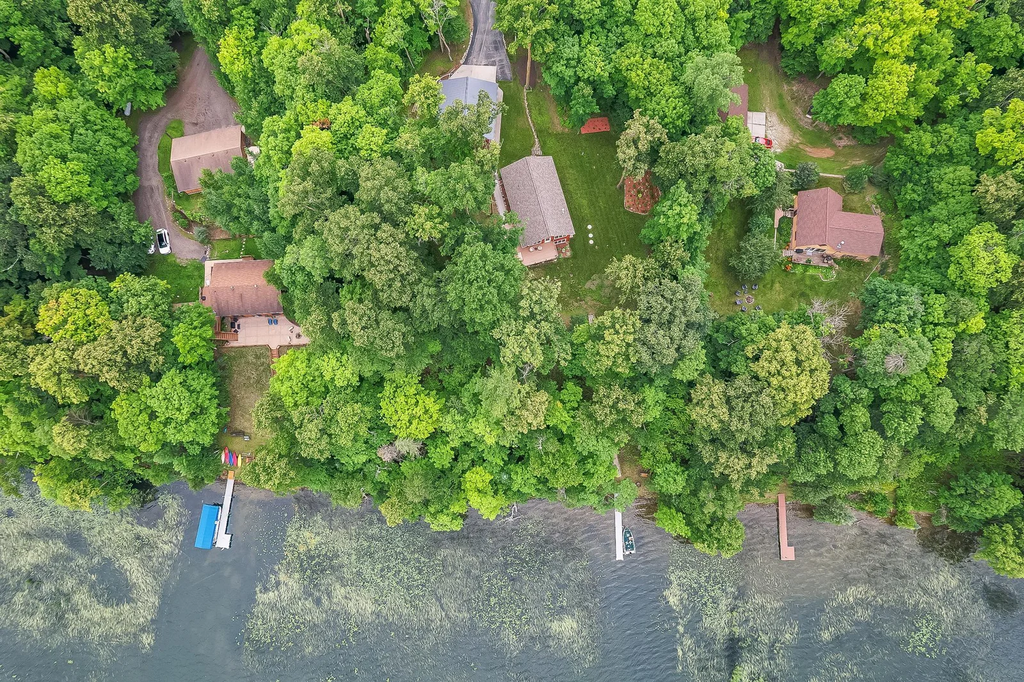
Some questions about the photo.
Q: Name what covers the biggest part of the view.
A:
trees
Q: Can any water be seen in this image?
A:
Yes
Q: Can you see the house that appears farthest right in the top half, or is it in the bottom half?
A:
top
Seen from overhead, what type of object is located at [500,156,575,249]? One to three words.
house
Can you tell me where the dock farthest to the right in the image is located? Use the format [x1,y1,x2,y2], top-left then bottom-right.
[778,494,795,560]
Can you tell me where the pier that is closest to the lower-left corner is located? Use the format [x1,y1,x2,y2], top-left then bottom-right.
[215,470,235,549]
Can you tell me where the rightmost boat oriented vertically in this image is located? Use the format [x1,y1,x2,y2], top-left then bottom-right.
[623,527,636,557]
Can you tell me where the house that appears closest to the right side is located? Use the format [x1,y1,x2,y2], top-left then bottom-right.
[789,189,886,257]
